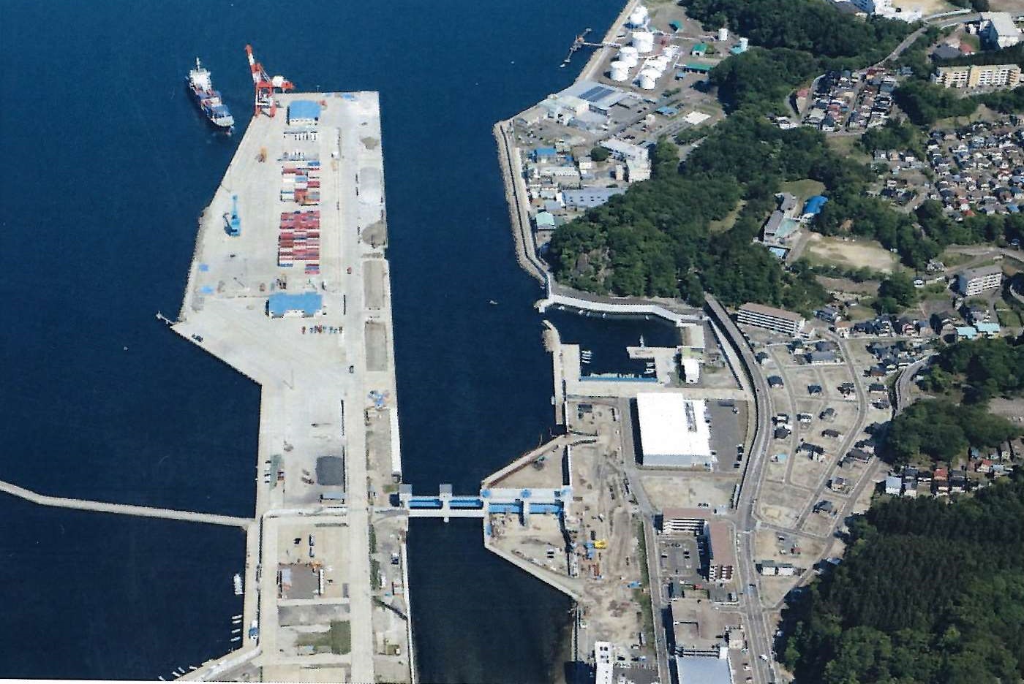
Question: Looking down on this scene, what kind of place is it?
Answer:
port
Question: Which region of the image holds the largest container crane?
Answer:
top left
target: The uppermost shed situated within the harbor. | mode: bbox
[683,359,699,386]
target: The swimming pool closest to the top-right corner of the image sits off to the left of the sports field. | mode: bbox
[773,246,789,259]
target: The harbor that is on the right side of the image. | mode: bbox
[539,295,749,424]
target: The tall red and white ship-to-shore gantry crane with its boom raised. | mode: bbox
[244,45,295,118]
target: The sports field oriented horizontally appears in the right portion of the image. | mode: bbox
[796,236,899,272]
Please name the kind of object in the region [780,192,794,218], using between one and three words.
building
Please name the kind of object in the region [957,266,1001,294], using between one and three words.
building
